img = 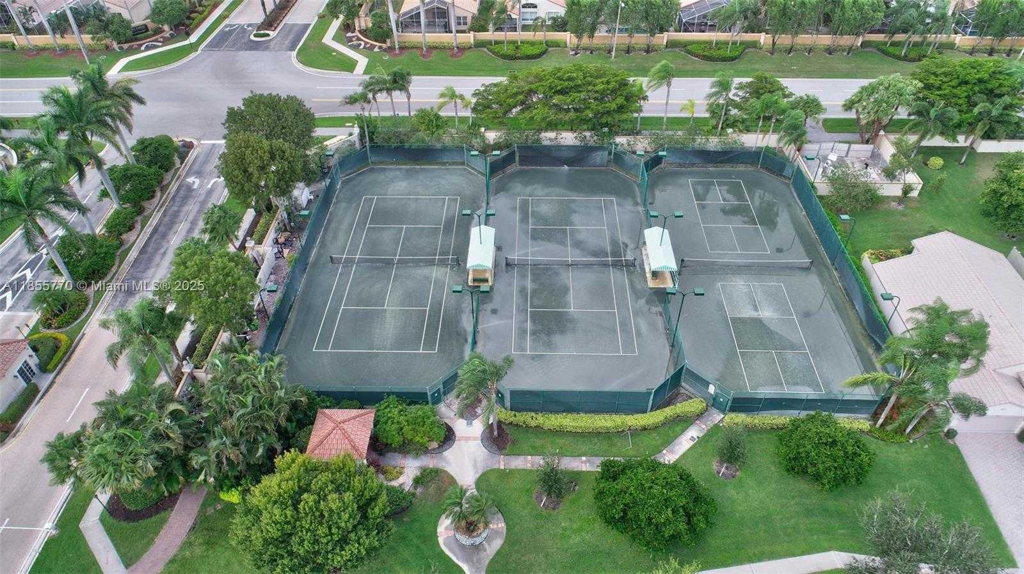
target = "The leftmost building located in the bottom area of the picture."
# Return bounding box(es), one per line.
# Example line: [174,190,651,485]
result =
[0,339,37,412]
